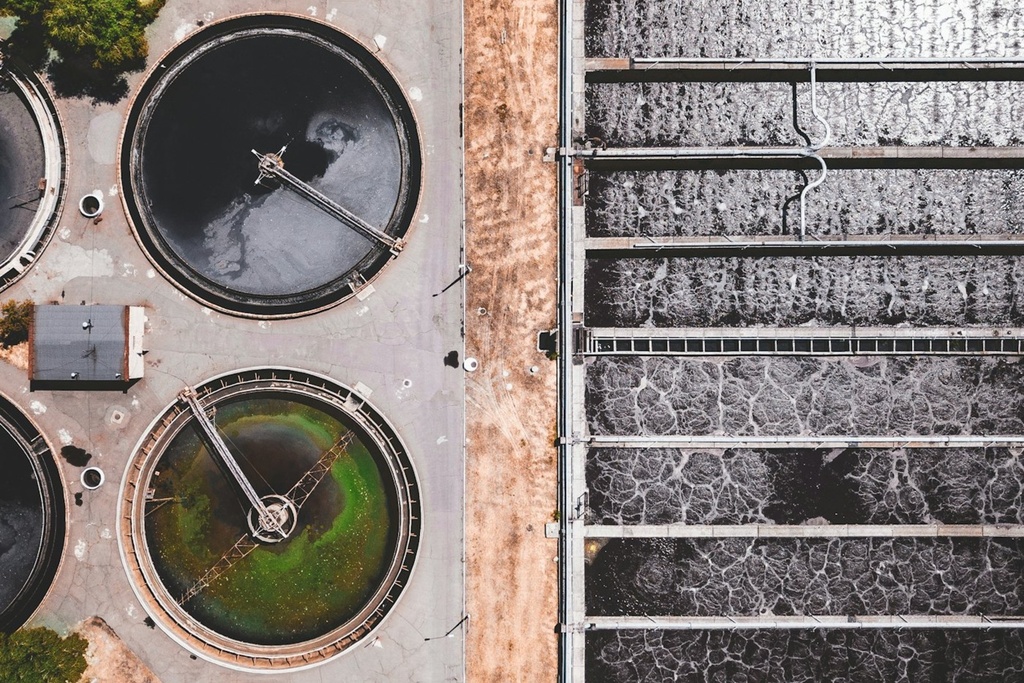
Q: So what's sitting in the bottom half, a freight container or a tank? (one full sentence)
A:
It is a tank that can be seen in the bottom half.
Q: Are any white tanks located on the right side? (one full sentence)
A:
No, no white tank can be made out on the right side.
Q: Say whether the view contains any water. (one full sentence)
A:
Yes, water shows up in the scene.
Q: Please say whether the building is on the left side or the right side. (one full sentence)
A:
It is on the left.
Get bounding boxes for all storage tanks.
[118,367,424,672]
[0,38,68,292]
[118,12,424,317]
[0,392,67,642]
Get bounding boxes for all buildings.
[27,304,145,381]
